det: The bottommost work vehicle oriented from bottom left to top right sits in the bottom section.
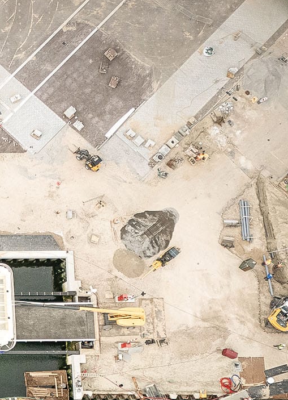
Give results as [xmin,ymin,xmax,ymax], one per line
[137,241,192,281]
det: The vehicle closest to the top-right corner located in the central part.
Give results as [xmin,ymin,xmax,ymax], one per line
[158,164,171,180]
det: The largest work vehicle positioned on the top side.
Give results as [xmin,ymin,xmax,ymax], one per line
[66,138,110,174]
